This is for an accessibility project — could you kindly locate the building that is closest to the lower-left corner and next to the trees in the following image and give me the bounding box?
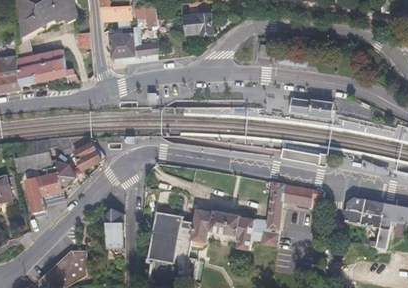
[58,250,90,288]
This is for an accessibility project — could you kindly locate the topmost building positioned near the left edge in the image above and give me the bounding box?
[18,0,79,38]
